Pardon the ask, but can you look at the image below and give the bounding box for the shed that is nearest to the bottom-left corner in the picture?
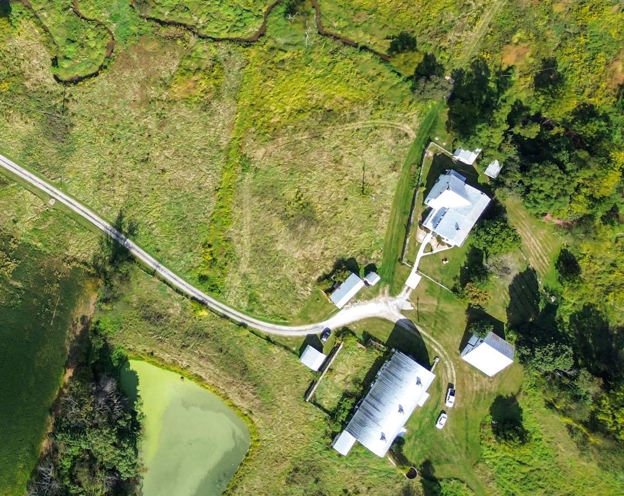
[298,343,325,370]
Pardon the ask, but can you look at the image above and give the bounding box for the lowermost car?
[435,411,450,433]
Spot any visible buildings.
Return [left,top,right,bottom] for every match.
[414,168,491,249]
[451,145,479,166]
[362,271,379,287]
[298,343,325,370]
[332,347,435,455]
[481,161,498,177]
[328,273,364,307]
[458,326,515,376]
